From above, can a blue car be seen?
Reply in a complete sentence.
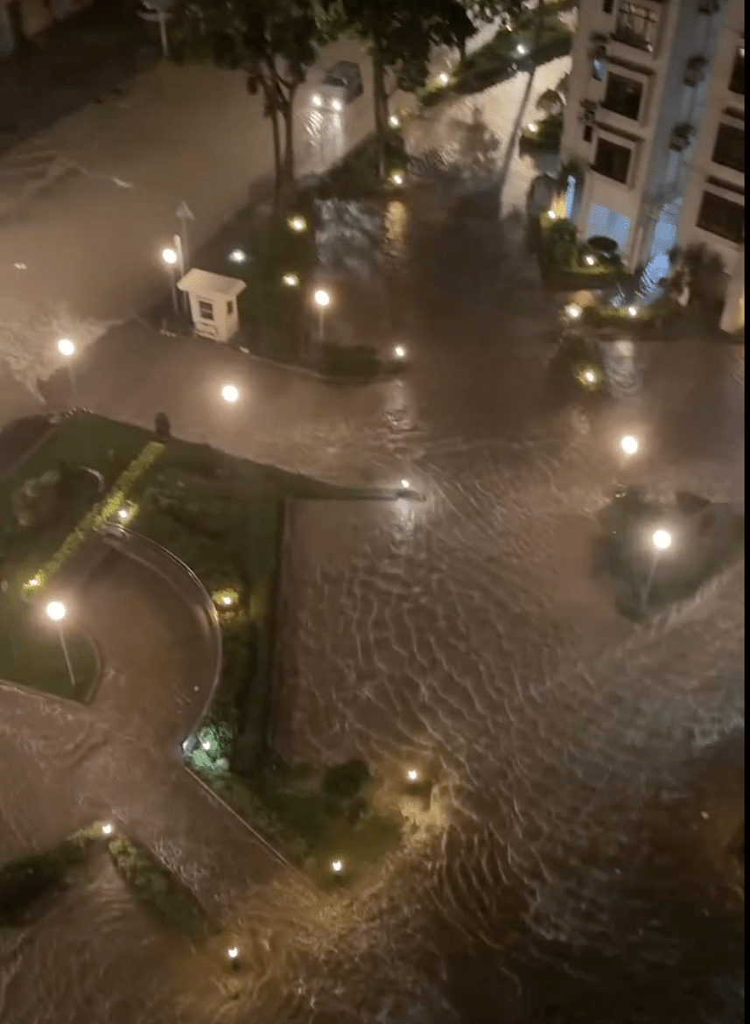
No, no blue car is visible in the scene.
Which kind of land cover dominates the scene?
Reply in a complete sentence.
For the most part, this view shows water.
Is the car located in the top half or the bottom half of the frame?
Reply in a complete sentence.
The car is in the top half of the image.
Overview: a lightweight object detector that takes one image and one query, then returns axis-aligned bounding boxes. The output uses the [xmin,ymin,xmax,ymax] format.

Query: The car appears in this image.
[315,66,357,115]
